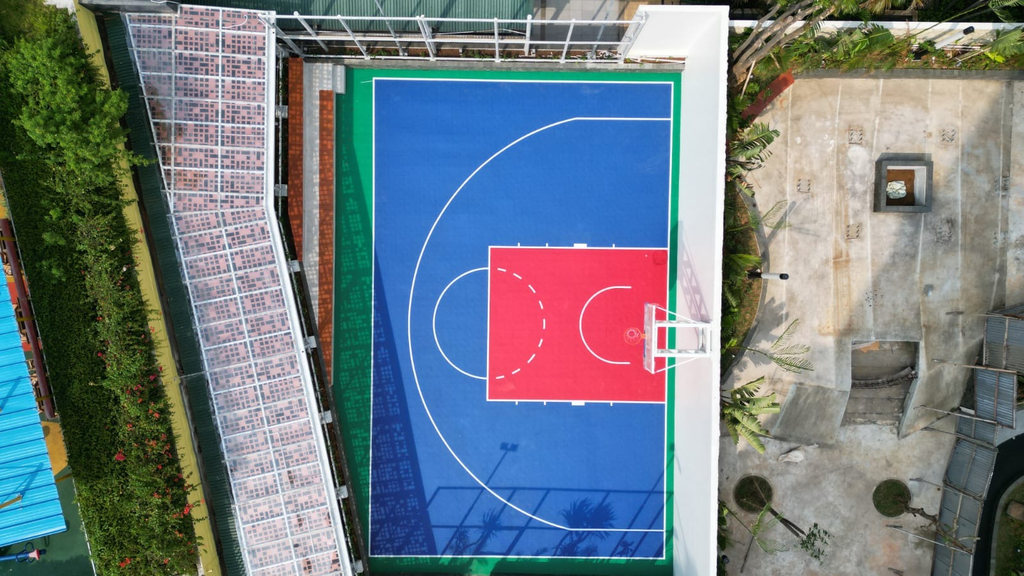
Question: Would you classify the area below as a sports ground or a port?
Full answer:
It's a sports ground.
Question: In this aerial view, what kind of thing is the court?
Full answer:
It turns out the court is a basketball court.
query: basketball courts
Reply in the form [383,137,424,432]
[334,68,681,574]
